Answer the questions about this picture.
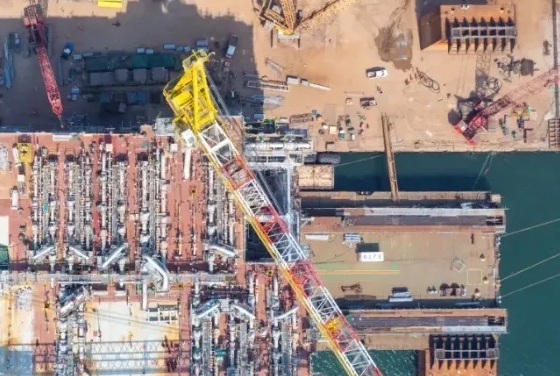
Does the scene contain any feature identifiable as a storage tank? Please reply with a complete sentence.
Yes, the image includes a storage tank.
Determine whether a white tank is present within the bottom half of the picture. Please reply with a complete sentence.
No, I can find no white tank within the bottom half of the picture.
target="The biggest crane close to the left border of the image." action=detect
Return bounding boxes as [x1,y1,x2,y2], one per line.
[20,7,65,129]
